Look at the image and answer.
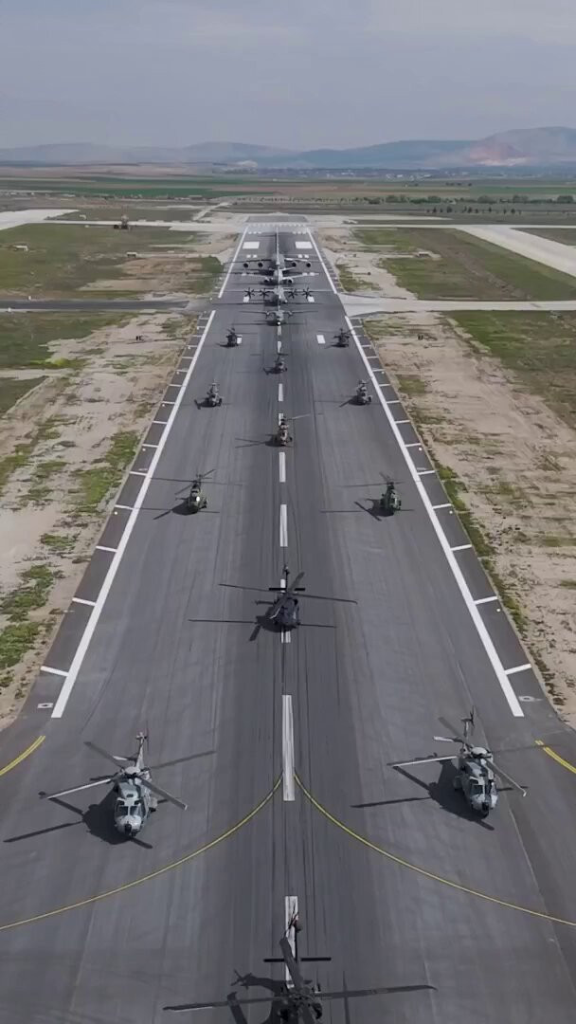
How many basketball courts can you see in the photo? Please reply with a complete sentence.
The picture shows no basketball courts.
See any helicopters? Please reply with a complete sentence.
Yes, looking at the shot, I can spot a helicopter.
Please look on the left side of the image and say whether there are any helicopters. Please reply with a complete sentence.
Yes, a helicopter shows up on the left side of the image.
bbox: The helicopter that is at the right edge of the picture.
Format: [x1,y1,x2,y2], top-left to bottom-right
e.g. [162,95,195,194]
[392,702,562,818]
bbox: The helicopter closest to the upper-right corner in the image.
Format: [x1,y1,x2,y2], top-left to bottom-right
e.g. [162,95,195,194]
[318,321,359,342]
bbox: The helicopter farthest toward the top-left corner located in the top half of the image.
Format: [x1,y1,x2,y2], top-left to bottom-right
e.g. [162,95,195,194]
[216,321,255,342]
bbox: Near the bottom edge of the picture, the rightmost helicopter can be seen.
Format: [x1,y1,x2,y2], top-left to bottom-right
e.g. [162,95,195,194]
[163,895,434,1024]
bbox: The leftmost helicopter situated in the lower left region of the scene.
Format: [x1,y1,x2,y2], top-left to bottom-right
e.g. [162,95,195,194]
[44,719,214,840]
